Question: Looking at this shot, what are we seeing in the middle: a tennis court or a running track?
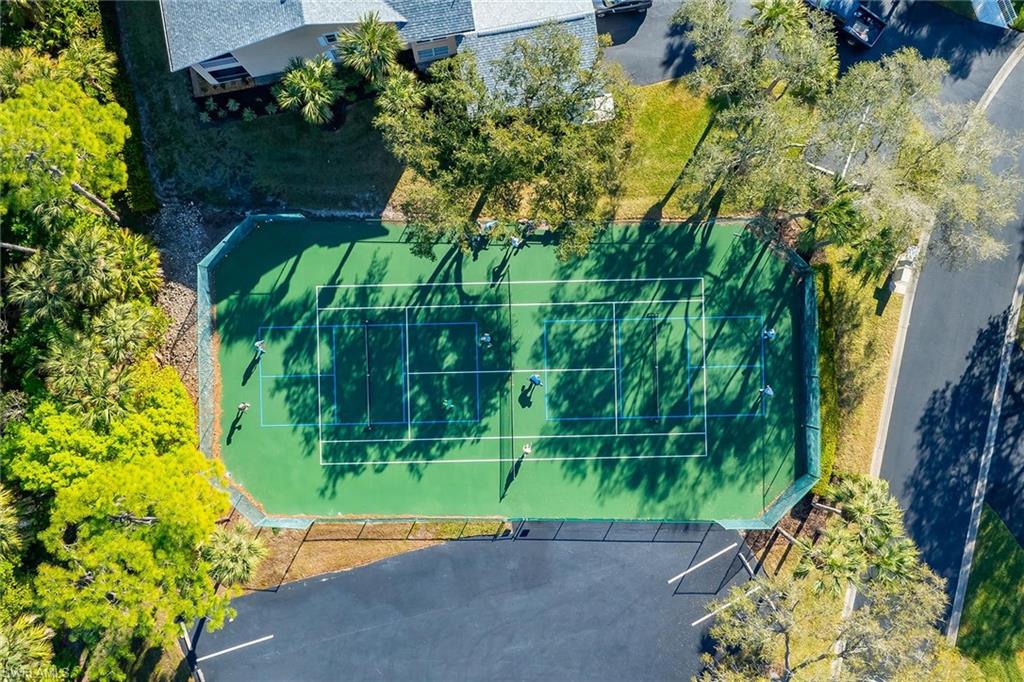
tennis court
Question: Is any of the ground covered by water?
No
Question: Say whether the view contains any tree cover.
Yes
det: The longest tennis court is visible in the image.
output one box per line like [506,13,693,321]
[220,221,805,518]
